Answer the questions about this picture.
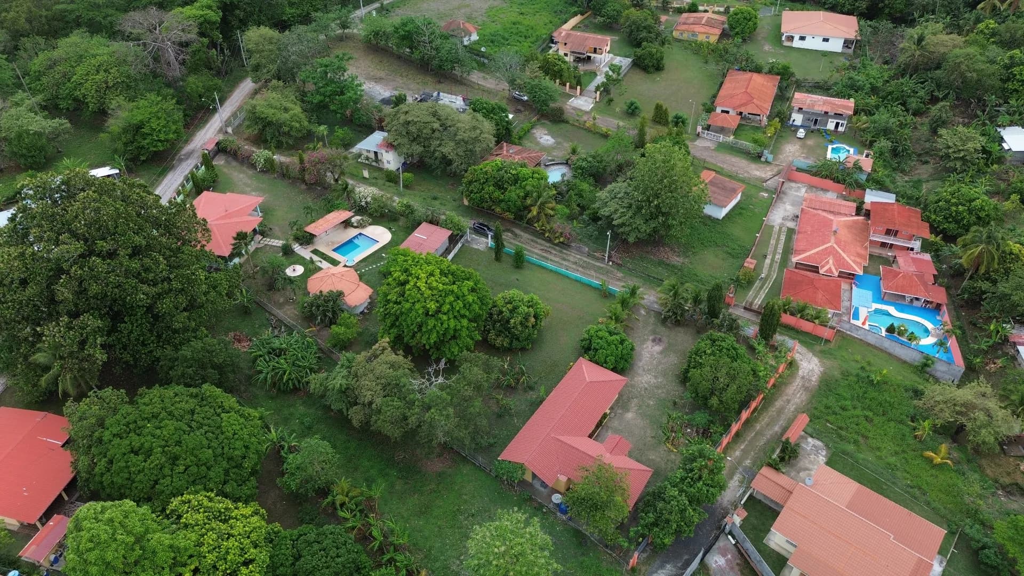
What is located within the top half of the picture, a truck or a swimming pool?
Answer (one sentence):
Looking within the top half of the picture, you will find a swimming pool.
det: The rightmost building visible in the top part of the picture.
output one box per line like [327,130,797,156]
[996,125,1024,161]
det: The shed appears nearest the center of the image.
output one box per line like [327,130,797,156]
[400,222,453,265]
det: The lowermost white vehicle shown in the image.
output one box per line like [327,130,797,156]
[795,125,808,139]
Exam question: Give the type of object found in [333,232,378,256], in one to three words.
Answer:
swimming pool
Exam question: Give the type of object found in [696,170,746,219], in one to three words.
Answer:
shed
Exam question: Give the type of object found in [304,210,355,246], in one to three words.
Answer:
building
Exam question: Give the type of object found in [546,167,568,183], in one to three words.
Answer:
swimming pool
